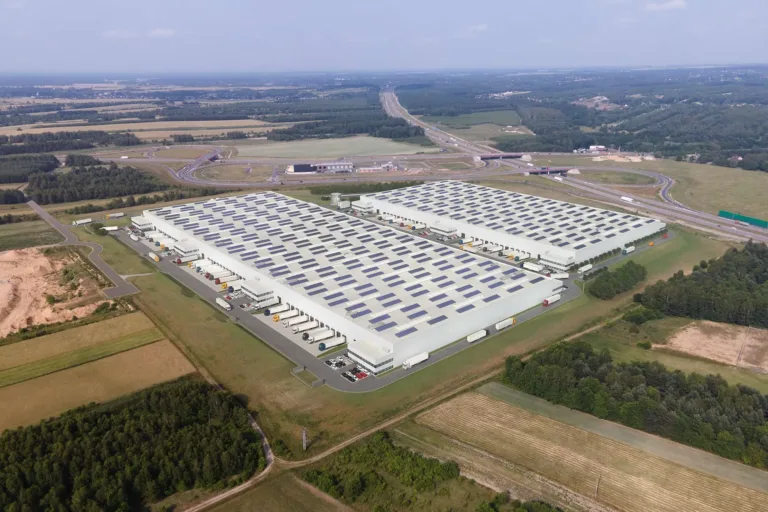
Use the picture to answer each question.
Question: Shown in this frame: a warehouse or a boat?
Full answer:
Of the two, only a warehouse appears.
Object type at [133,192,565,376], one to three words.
warehouse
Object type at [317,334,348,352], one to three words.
vehicle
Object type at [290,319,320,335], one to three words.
vehicle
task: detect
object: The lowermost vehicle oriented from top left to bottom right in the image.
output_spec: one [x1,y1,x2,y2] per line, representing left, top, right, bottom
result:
[214,296,232,312]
